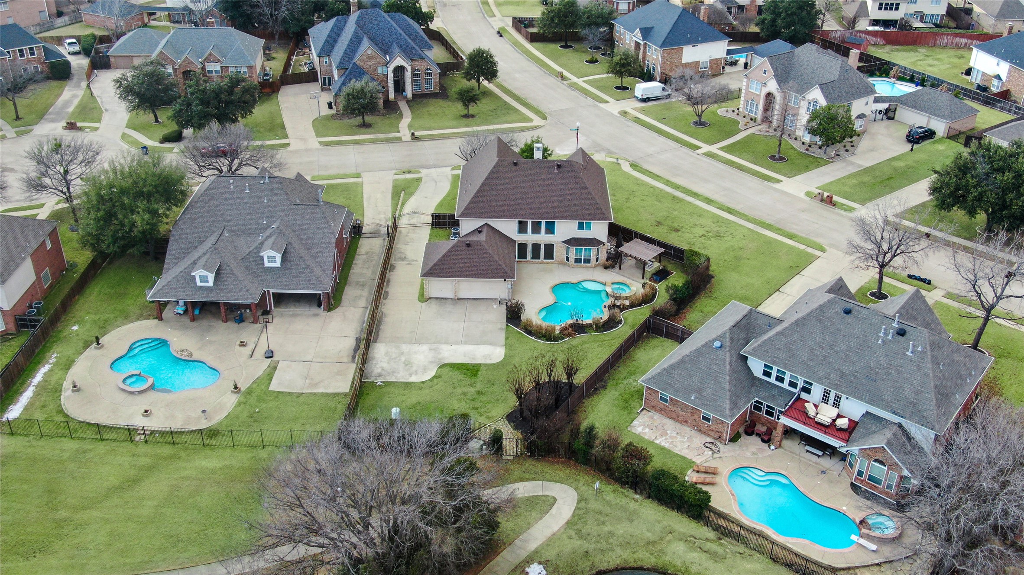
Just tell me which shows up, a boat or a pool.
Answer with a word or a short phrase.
pool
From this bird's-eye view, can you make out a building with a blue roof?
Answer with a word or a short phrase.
Yes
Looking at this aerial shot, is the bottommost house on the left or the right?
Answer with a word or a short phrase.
right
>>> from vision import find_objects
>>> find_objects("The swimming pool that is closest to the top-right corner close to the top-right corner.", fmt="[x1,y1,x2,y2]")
[869,79,923,95]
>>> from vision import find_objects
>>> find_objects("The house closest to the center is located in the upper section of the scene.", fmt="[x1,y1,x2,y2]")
[417,136,613,300]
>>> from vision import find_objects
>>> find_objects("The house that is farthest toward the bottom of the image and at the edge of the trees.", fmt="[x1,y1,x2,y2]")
[637,277,987,500]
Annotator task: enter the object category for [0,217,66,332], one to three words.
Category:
house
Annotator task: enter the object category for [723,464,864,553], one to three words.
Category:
swimming pool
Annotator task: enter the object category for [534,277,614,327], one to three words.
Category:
swimming pool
